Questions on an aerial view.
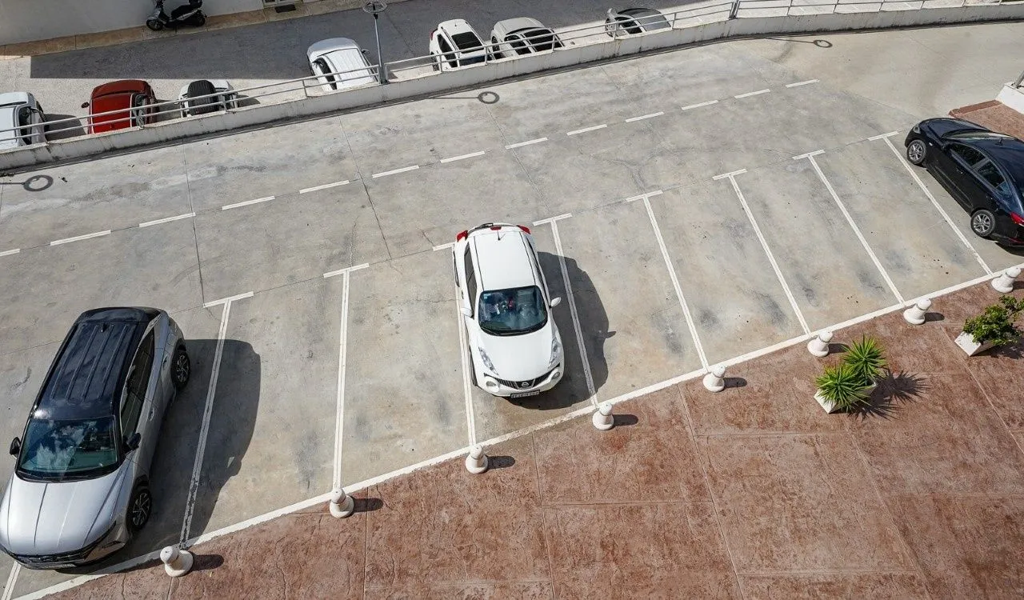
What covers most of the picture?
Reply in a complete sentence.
The scene is dominated by paved ground.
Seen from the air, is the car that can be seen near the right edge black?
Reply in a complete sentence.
Yes, the car that can be seen near the right edge is black.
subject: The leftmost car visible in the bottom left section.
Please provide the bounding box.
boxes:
[0,309,187,567]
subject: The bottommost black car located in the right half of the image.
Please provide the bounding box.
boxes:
[908,123,1024,250]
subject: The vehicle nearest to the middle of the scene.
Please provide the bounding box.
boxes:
[452,227,566,401]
